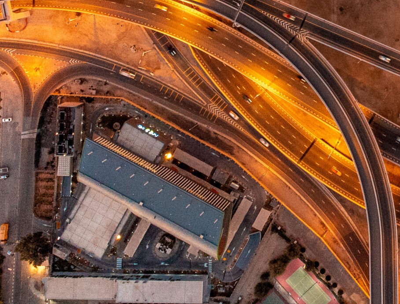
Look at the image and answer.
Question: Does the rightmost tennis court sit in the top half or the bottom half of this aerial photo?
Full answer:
The bottom half of the photo is where the rightmost tennis court is.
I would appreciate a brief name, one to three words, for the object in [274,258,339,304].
tennis court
